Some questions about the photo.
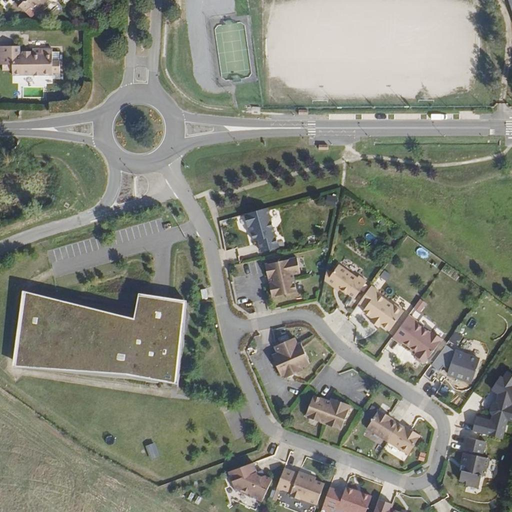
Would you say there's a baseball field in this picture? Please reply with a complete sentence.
No, there's no baseball field here.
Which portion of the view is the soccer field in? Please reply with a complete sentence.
The soccer field appears toward the top right of the photo.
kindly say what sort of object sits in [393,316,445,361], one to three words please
house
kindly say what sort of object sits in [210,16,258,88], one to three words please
sports court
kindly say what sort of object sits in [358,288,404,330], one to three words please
house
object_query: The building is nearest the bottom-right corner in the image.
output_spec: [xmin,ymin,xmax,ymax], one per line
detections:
[462,438,490,486]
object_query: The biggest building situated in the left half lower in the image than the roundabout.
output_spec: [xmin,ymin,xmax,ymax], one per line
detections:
[12,291,186,384]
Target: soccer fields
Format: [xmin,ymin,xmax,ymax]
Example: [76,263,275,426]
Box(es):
[261,0,484,105]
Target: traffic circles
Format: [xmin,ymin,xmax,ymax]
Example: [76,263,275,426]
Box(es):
[90,74,190,178]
